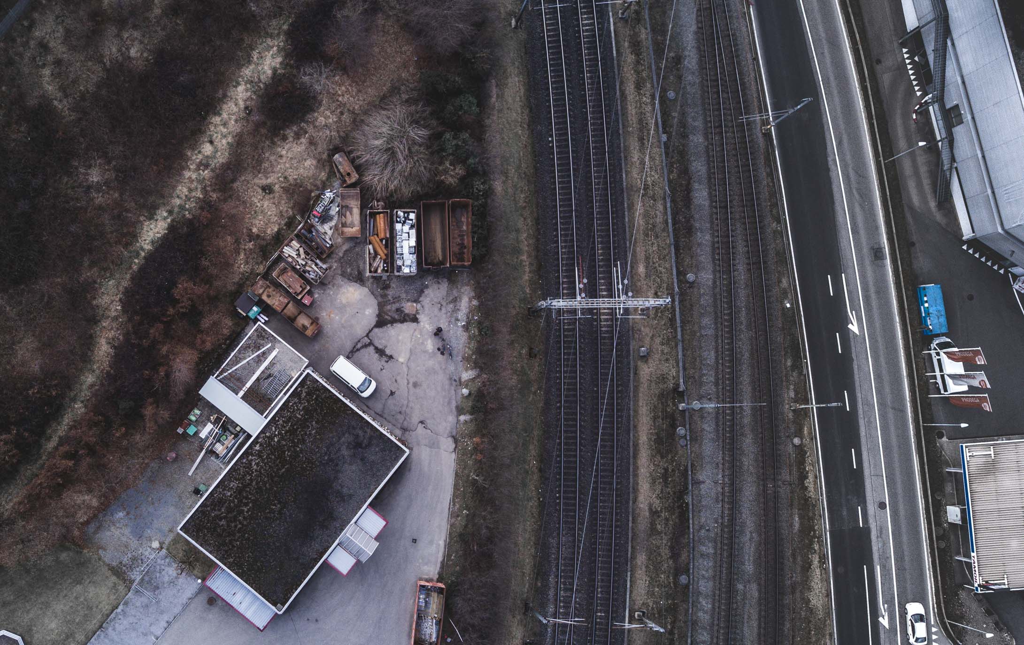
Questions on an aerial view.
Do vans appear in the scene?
Yes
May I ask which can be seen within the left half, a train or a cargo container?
cargo container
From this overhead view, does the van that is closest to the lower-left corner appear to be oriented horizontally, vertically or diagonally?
diagonally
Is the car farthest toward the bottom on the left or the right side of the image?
right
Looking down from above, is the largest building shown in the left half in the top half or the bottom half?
bottom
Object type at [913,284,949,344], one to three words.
trailer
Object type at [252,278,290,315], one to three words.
shipping container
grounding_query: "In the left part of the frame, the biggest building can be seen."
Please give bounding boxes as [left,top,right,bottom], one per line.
[179,366,408,632]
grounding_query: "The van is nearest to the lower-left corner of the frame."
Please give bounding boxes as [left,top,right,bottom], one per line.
[328,355,377,398]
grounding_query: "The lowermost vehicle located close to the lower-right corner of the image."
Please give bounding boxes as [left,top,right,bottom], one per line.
[902,601,930,645]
